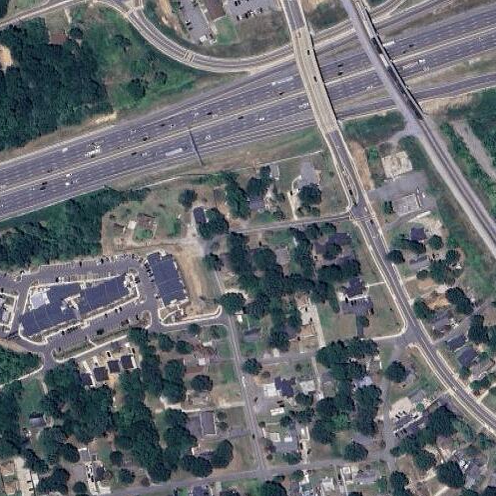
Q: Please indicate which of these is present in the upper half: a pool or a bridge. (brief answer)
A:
bridge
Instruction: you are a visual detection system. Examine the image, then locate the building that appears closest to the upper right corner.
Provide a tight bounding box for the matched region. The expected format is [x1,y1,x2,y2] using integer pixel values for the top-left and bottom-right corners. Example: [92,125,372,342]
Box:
[393,190,425,217]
